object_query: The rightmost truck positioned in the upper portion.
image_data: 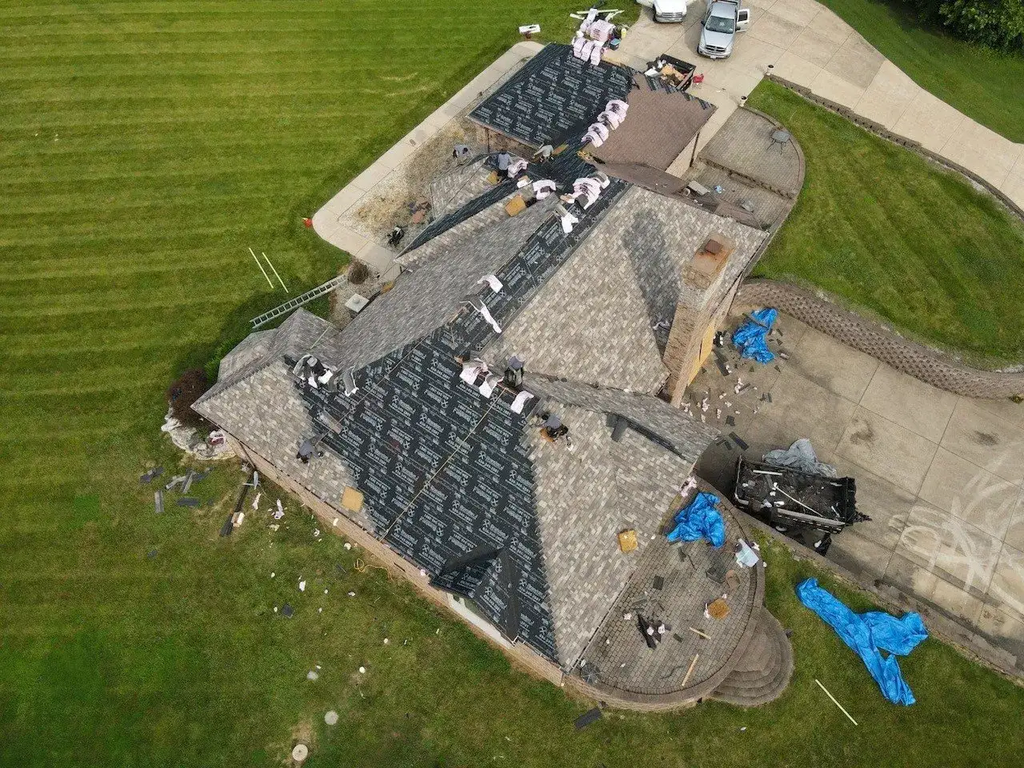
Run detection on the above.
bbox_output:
[701,0,758,58]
